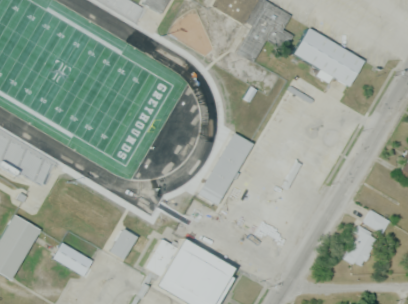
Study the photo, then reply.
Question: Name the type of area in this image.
sports ground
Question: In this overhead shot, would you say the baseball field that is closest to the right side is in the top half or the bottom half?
top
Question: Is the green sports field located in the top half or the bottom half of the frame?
top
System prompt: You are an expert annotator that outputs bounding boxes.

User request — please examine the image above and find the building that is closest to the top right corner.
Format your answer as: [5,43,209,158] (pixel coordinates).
[292,28,365,86]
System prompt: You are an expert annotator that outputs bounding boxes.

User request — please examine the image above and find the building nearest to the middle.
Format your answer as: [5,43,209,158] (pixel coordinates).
[196,134,254,207]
